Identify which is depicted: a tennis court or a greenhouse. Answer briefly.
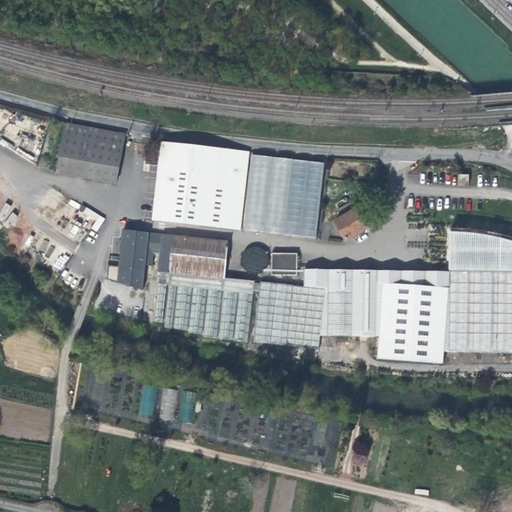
greenhouse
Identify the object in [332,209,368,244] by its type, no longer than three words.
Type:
house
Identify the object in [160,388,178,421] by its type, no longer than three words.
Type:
greenhouse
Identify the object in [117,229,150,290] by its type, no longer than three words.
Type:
building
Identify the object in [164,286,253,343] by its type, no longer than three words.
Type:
greenhouse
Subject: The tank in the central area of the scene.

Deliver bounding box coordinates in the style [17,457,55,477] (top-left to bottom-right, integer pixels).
[241,244,270,274]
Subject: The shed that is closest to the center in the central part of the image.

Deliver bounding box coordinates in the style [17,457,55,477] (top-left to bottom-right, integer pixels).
[270,253,298,276]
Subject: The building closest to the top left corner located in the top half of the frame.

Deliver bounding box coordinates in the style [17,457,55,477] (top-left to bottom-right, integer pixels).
[55,122,126,186]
